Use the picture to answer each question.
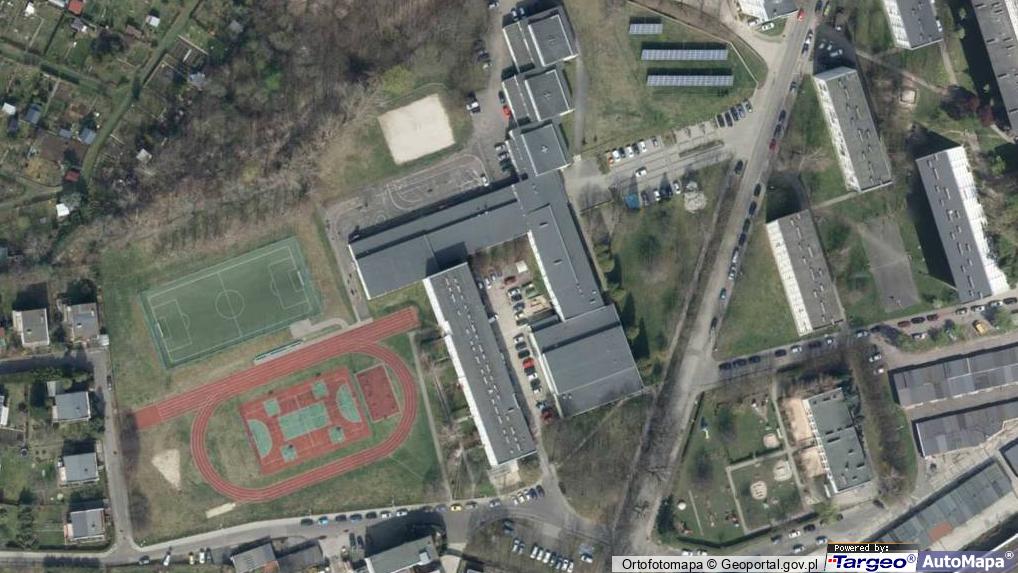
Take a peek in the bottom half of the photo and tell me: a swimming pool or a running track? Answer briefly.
running track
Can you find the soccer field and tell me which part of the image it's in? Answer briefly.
left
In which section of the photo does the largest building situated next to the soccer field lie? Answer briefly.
center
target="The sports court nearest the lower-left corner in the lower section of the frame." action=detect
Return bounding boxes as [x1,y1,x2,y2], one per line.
[240,366,373,476]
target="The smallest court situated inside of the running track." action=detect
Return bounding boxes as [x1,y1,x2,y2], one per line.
[356,364,400,422]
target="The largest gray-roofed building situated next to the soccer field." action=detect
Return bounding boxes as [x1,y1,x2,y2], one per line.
[347,6,645,464]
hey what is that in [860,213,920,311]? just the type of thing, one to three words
sports court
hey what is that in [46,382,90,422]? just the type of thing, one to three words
house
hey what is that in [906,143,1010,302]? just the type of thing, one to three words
building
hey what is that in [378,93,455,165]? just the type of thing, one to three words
sports court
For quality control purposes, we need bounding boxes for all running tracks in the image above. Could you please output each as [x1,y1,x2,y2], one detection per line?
[135,305,420,503]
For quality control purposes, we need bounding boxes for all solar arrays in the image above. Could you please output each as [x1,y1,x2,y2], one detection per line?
[647,76,734,86]
[628,23,665,33]
[642,50,729,60]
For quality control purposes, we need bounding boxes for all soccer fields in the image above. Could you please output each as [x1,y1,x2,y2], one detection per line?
[139,236,321,368]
